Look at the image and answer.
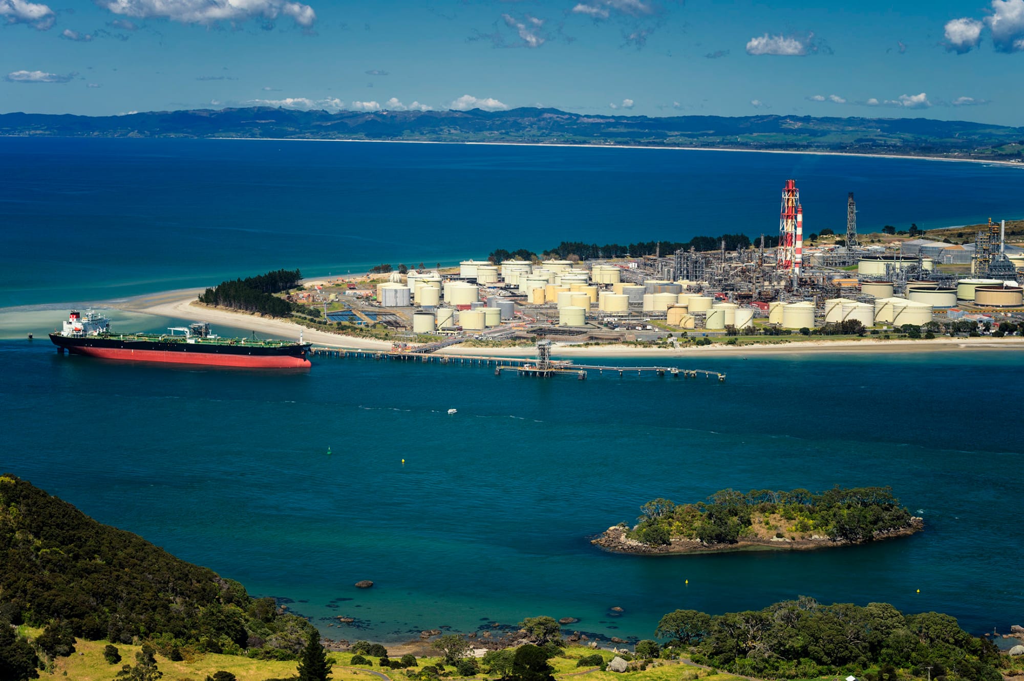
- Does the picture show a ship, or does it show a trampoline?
ship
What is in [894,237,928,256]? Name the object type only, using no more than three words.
building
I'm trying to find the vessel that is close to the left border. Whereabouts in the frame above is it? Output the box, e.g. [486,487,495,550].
[45,305,312,368]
